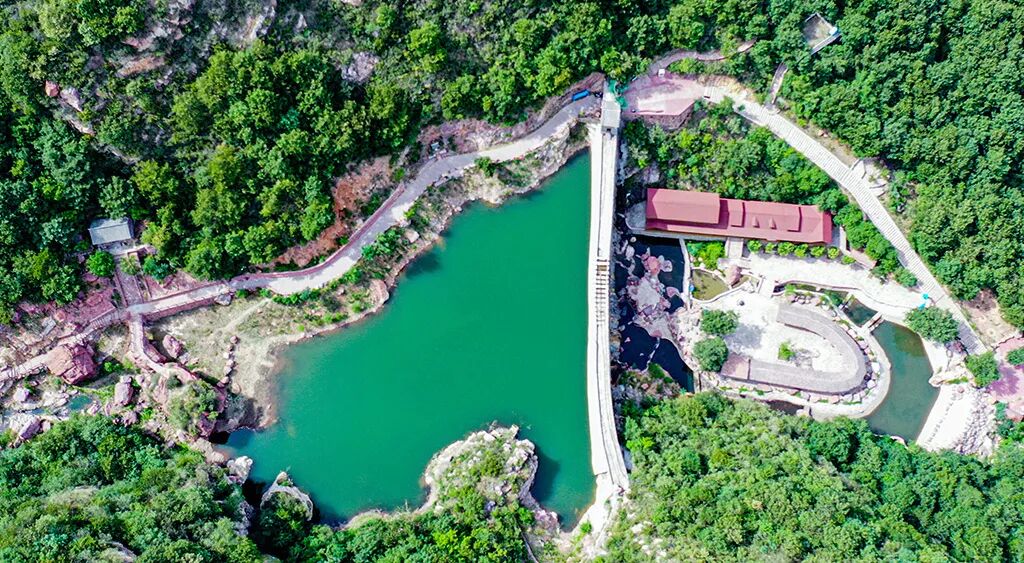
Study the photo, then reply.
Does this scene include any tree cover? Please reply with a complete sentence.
Yes, tree cover shows up in the scene.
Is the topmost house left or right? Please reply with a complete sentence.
The topmost house appears in the right half of the scene.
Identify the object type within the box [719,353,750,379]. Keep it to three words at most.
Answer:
building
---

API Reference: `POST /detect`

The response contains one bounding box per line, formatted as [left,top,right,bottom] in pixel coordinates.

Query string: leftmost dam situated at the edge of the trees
[586,127,629,492]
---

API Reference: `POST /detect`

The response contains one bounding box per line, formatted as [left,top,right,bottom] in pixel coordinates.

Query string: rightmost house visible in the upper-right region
[798,12,841,53]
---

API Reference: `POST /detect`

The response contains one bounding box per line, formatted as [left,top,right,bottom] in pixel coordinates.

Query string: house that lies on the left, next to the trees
[85,215,134,245]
